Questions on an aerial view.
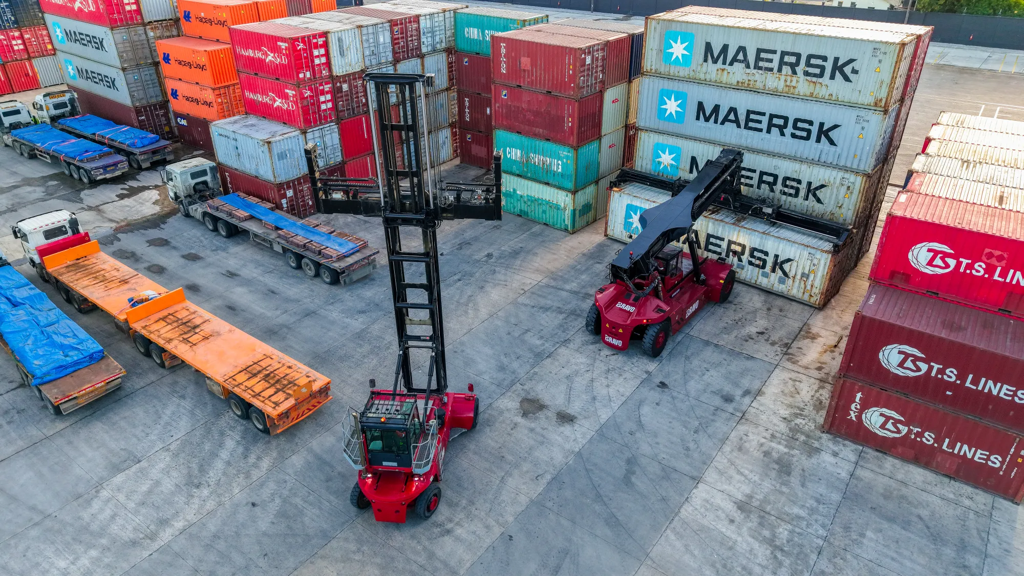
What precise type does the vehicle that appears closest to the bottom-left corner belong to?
truck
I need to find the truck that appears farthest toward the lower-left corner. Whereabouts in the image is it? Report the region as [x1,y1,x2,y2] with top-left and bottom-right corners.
[8,364,131,421]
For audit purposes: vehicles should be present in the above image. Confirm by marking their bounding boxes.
[0,97,133,184]
[582,148,861,360]
[8,364,131,421]
[6,207,332,441]
[157,160,382,286]
[307,72,508,524]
